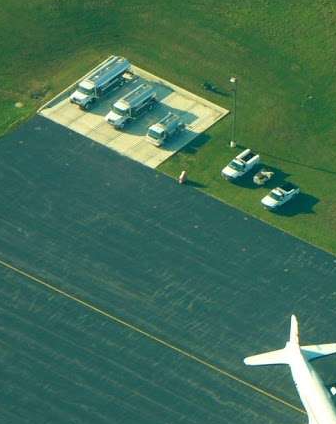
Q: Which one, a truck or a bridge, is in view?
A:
truck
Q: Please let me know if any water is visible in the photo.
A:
No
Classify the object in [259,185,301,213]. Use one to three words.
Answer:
truck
